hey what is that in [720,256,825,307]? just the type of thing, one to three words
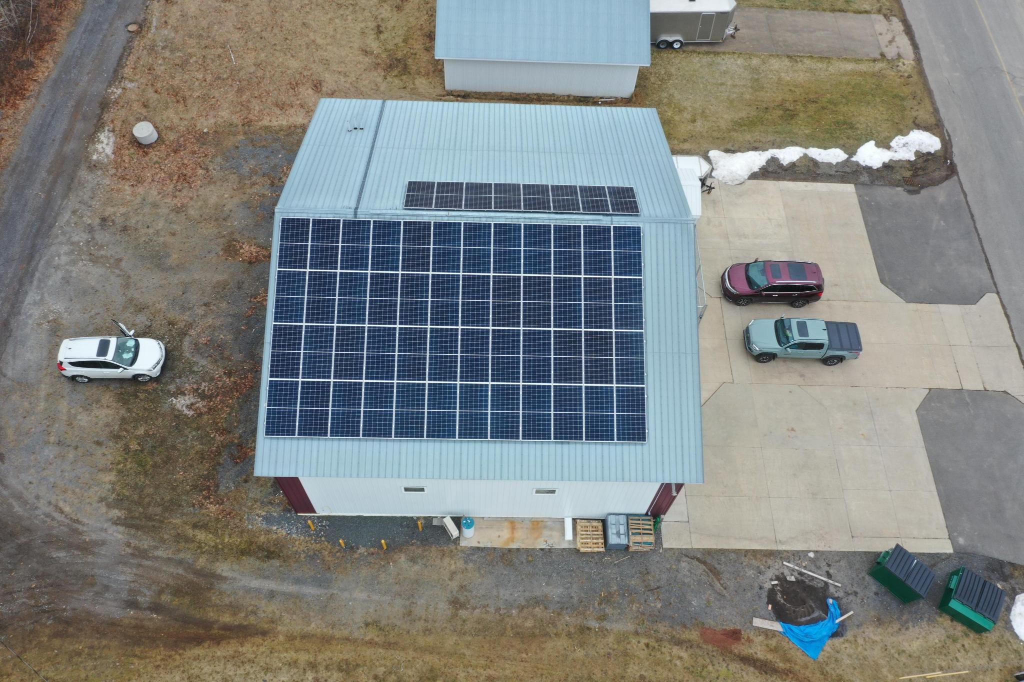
car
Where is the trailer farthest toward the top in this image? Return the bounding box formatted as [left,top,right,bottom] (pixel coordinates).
[650,0,744,50]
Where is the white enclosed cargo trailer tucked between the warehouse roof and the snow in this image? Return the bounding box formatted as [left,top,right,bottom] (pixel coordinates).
[674,156,722,196]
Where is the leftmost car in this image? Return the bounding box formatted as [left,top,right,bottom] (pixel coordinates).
[56,317,167,382]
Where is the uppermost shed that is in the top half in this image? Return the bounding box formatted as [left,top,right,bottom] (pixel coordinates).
[434,0,651,96]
